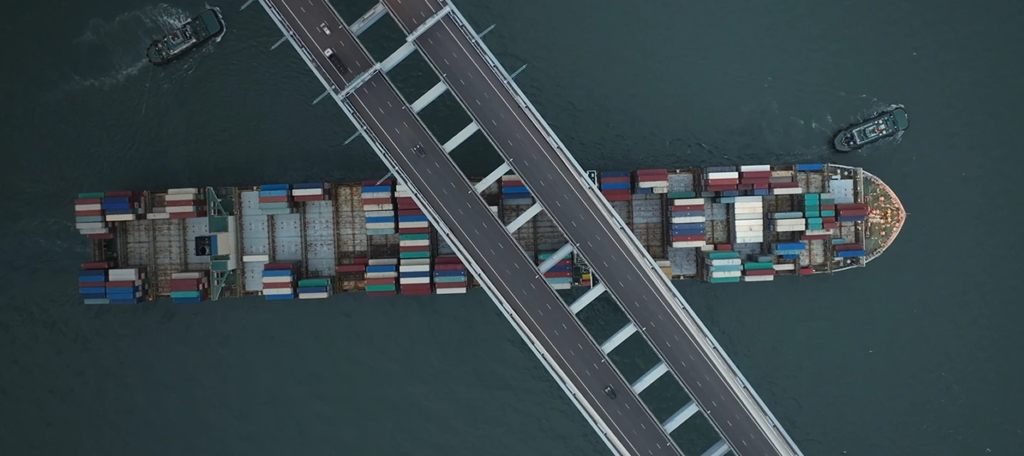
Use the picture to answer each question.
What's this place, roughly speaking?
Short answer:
port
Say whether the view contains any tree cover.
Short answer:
No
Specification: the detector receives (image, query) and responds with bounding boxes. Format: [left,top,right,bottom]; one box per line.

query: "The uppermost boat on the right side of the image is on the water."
[834,104,911,153]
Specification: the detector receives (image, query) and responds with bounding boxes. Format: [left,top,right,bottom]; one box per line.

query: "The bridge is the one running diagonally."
[240,0,805,456]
